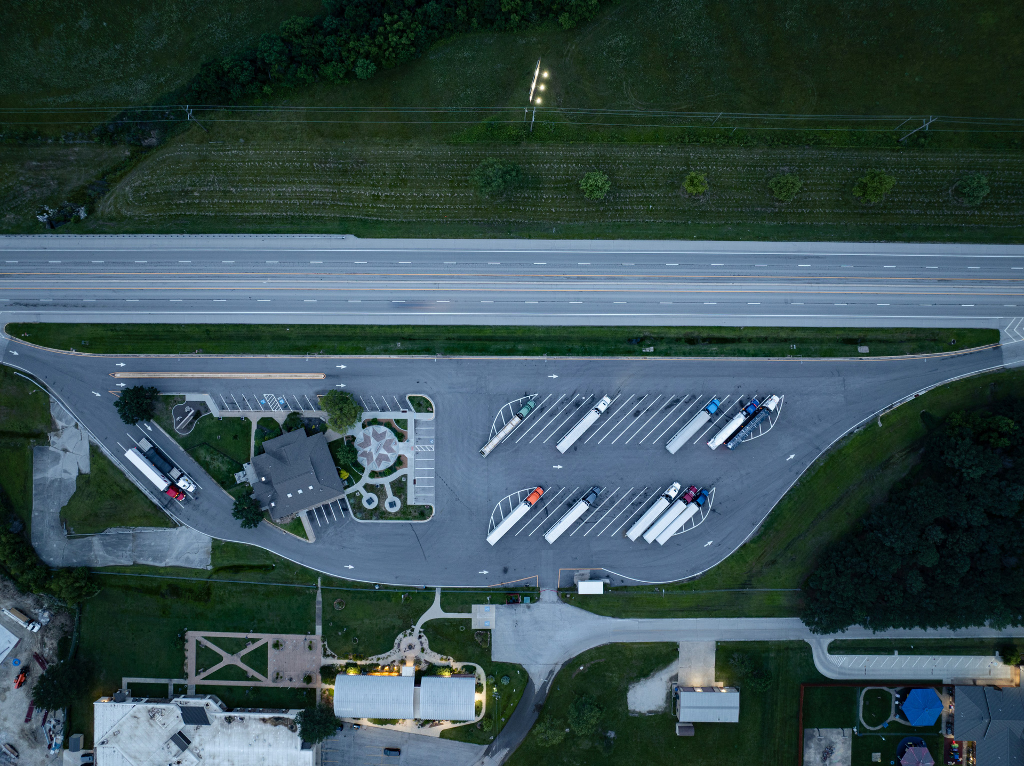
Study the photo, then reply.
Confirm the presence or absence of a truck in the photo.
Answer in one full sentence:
Yes, a truck appears in the view.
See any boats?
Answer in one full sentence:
No, there isn't any boat down there.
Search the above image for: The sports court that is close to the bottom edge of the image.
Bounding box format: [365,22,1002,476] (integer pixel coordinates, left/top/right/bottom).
[803,729,852,766]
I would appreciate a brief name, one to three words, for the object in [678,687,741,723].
building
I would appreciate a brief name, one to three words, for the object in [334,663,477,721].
building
